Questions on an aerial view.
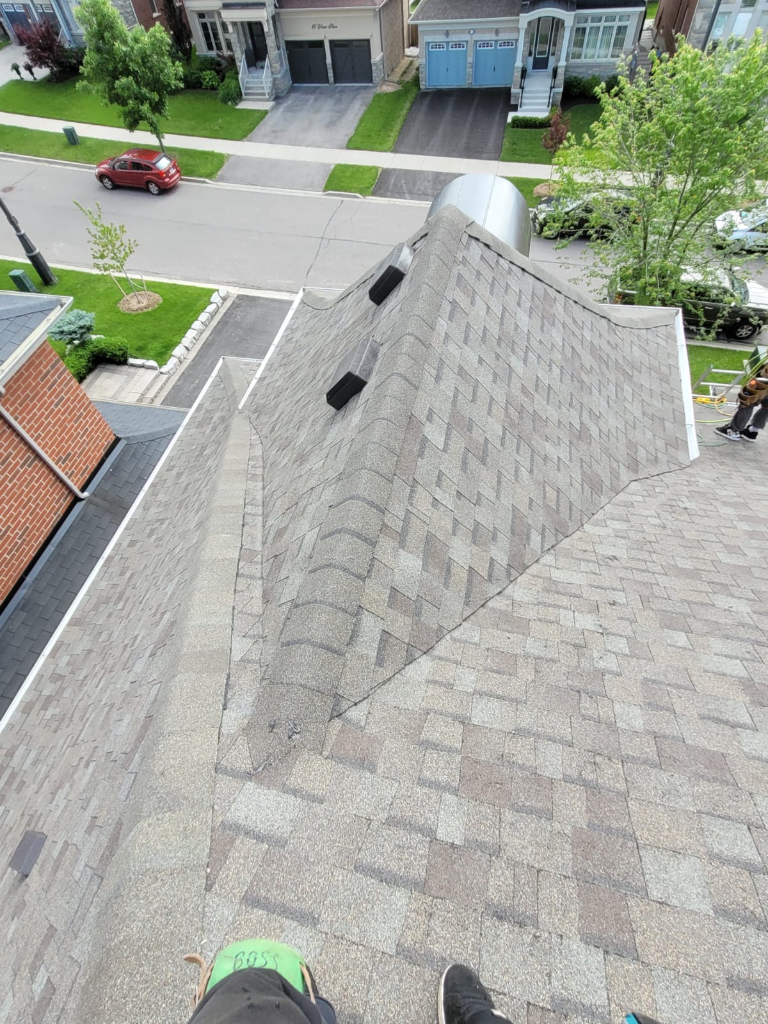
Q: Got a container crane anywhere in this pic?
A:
No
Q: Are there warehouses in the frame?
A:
No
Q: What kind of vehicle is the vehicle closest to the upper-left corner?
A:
automobile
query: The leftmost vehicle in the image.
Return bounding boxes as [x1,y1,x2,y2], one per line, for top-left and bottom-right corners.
[86,142,178,193]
